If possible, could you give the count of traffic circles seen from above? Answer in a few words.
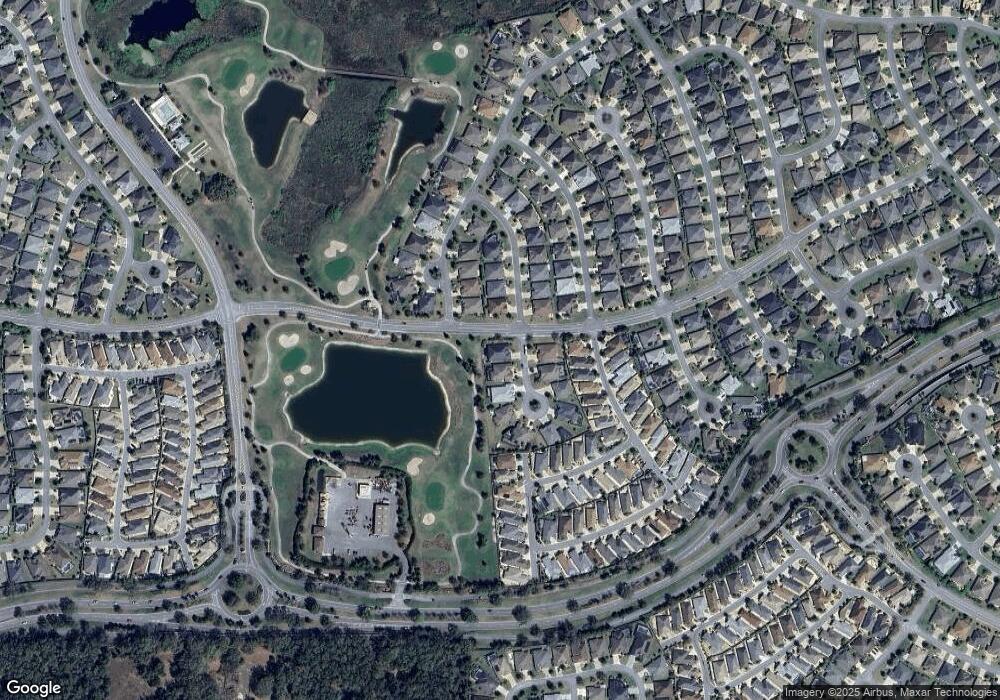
2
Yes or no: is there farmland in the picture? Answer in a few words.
No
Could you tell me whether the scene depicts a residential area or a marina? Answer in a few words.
residential area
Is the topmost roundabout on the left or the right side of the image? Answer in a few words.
right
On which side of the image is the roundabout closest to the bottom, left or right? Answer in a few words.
left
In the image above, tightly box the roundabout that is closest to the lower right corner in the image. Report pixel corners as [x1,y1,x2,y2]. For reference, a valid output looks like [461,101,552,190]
[773,421,839,485]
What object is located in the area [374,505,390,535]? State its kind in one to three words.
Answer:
barn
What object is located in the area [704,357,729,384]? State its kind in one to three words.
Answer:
house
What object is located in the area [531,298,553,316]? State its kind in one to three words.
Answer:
house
